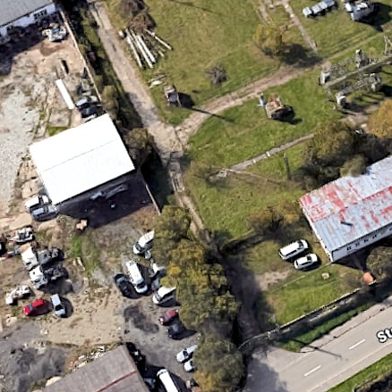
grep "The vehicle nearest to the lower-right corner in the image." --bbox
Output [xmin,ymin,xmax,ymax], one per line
[295,256,319,271]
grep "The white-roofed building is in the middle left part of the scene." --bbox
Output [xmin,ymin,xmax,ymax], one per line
[29,115,136,219]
